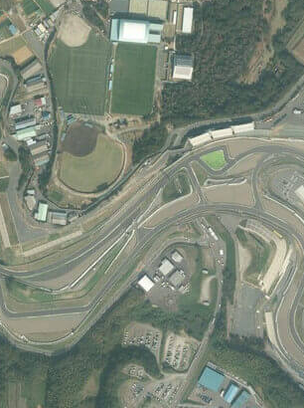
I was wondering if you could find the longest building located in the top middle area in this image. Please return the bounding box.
[111,17,164,42]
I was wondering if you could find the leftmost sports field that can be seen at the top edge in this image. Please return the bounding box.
[50,10,113,115]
